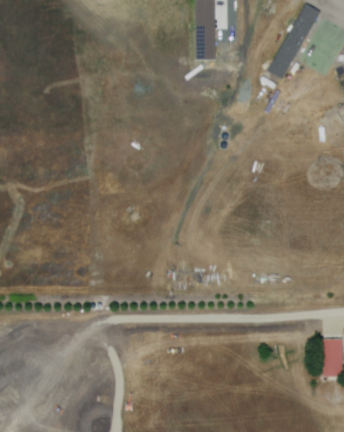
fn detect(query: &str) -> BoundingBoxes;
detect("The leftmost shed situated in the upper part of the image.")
[197,0,218,59]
